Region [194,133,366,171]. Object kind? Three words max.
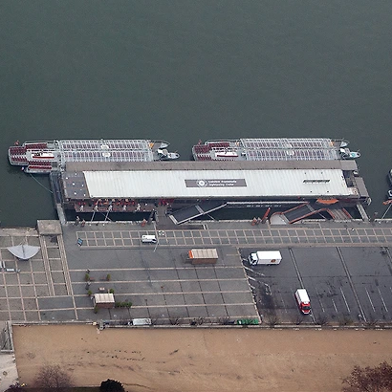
boat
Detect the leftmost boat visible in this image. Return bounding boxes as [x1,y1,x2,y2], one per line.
[10,134,188,176]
